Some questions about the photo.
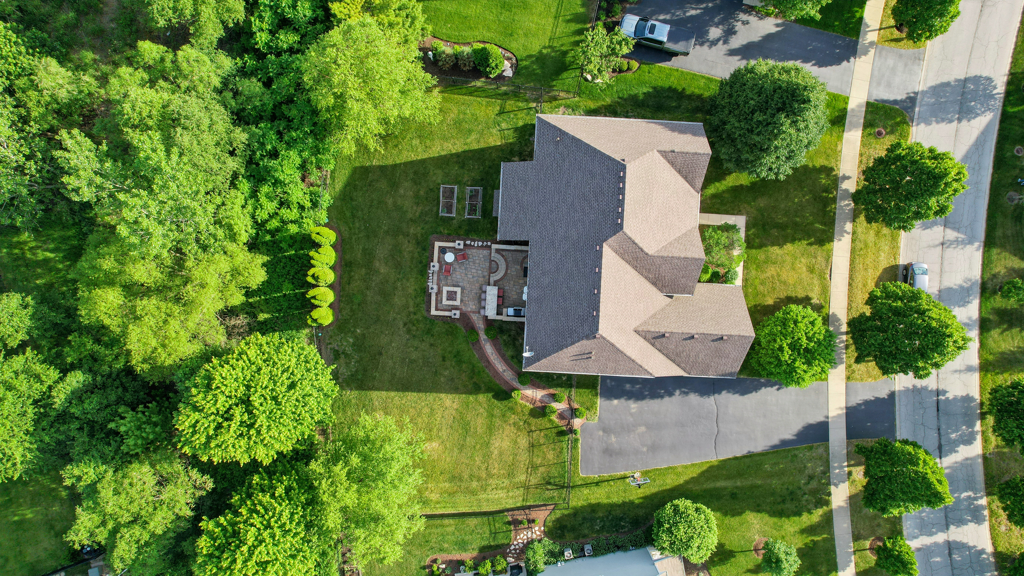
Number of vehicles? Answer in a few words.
two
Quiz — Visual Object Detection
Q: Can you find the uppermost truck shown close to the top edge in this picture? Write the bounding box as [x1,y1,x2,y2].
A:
[621,13,693,56]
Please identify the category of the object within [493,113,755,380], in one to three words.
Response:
house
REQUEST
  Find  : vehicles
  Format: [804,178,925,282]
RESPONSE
[903,262,930,303]
[621,13,693,56]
